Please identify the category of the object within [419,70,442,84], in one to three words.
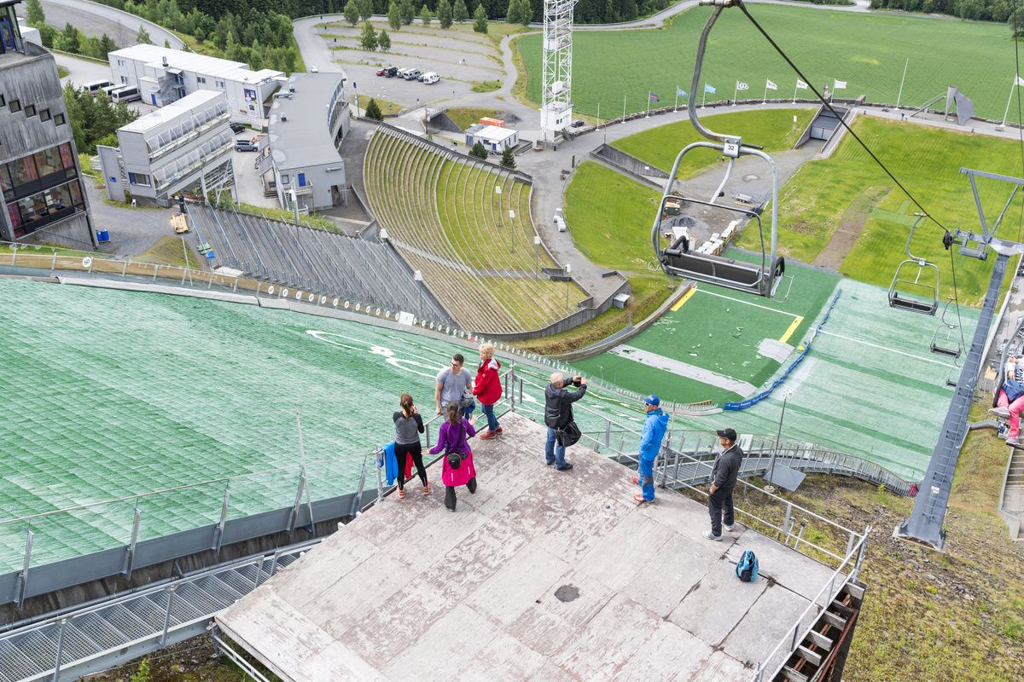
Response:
vehicle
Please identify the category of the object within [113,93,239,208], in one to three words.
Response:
building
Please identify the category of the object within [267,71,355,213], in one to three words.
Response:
building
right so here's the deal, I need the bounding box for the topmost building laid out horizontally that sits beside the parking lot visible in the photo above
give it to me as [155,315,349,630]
[106,40,295,125]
